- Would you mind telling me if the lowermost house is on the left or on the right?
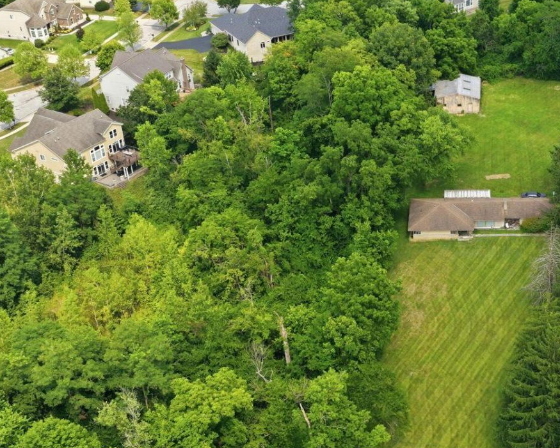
right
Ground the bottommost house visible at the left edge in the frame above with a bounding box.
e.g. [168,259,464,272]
[0,107,141,189]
